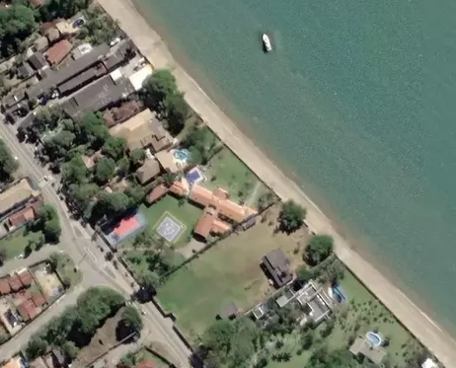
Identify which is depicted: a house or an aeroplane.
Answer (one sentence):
Looking from above, you can make out a house.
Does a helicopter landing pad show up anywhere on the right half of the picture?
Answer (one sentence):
No, no helicopter landing pad can be made out on the right half of the picture.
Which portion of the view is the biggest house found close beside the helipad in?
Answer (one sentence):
The biggest house found close beside the helipad sits in the center section of the image.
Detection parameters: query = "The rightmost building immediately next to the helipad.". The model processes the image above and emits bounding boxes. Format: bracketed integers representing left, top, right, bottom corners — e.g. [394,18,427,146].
[189,184,245,241]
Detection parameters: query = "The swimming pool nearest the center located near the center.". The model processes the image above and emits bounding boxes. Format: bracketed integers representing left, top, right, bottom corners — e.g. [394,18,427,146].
[184,171,203,190]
